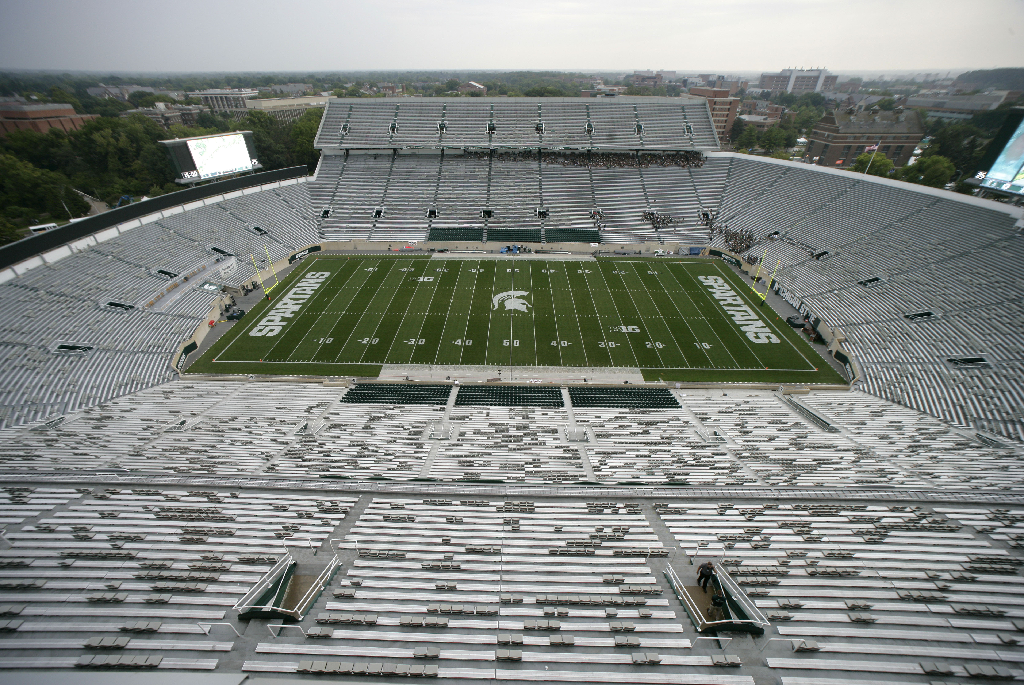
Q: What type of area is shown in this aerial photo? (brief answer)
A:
sports ground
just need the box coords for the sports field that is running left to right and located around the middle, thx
[180,254,847,383]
